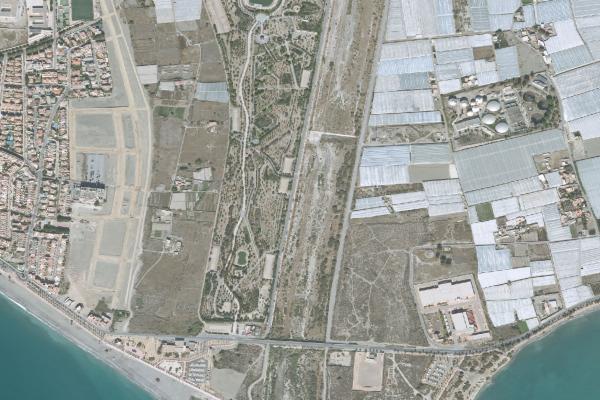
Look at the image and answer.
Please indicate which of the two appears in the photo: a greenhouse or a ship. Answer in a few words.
greenhouse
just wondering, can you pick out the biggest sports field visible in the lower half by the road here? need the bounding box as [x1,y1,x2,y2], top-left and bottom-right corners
[352,352,383,392]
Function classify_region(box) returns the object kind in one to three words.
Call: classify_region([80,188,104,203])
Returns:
building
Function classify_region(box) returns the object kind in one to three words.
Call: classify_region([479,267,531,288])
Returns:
greenhouse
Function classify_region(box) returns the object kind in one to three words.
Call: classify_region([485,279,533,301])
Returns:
greenhouse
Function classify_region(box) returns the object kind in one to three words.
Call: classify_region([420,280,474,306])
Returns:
building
